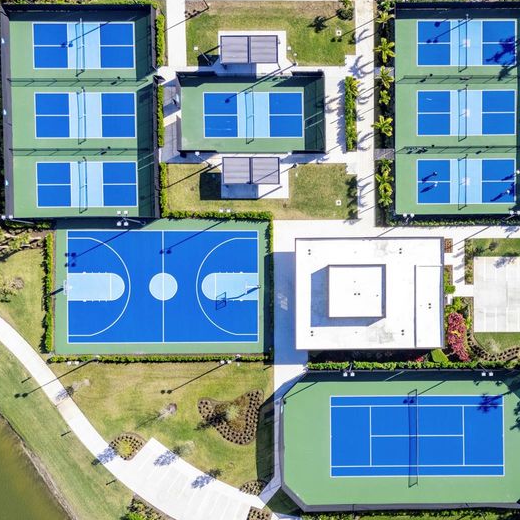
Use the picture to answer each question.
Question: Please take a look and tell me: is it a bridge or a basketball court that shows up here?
basketball court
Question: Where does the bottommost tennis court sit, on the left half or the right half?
right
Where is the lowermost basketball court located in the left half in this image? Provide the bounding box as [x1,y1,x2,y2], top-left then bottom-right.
[55,219,269,354]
